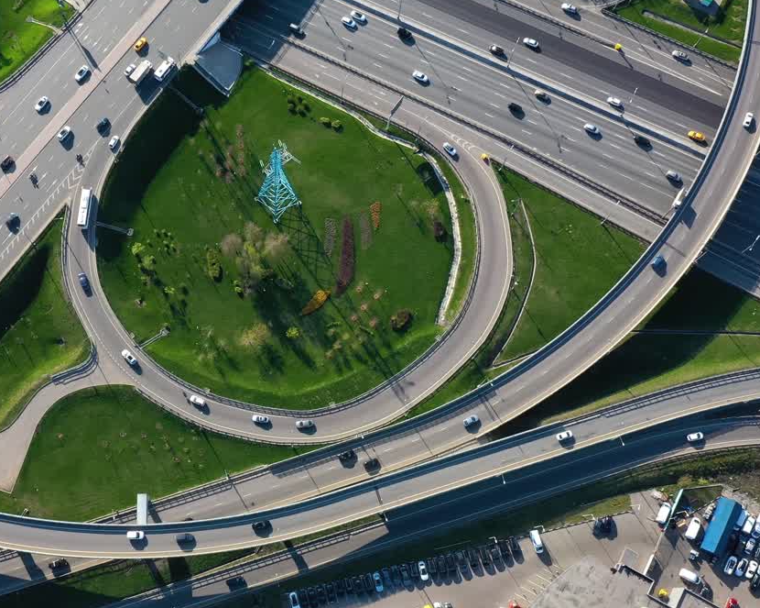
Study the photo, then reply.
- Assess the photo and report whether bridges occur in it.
Yes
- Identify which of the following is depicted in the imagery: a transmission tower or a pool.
transmission tower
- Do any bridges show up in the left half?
Yes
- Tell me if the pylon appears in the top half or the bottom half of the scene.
top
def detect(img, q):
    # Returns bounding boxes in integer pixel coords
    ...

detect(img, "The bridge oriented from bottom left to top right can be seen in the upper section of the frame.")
[552,0,760,373]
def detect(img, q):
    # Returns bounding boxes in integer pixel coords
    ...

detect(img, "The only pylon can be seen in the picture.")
[254,142,301,222]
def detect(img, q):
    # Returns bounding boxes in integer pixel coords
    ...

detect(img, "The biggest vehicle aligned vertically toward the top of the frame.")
[74,185,93,235]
